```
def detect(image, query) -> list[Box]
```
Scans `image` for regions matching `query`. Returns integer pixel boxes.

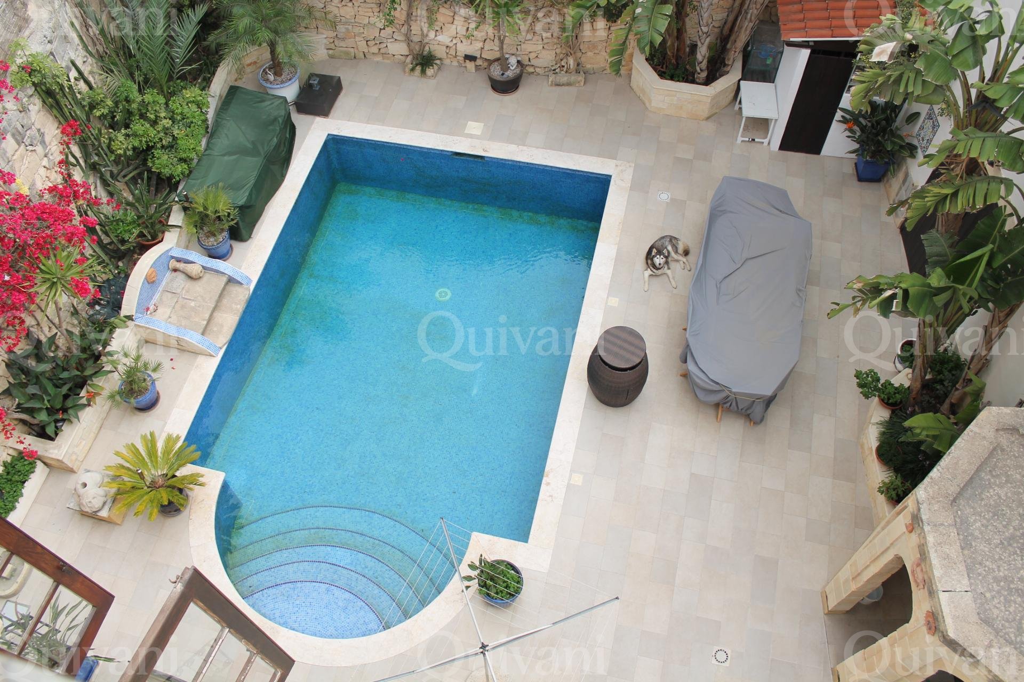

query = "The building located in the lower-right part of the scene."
[823,401,1024,682]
